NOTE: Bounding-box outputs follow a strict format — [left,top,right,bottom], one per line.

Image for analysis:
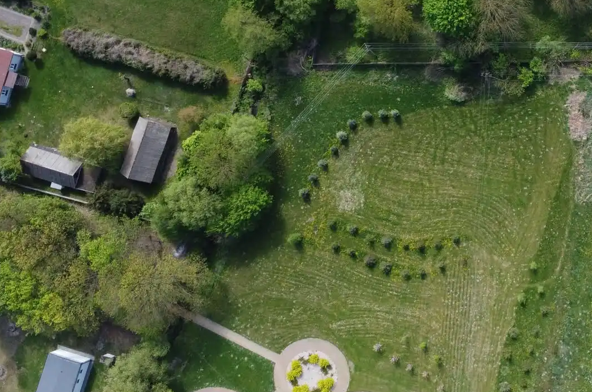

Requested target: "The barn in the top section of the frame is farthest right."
[120,118,176,183]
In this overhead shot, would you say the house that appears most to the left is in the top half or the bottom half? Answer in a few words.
top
